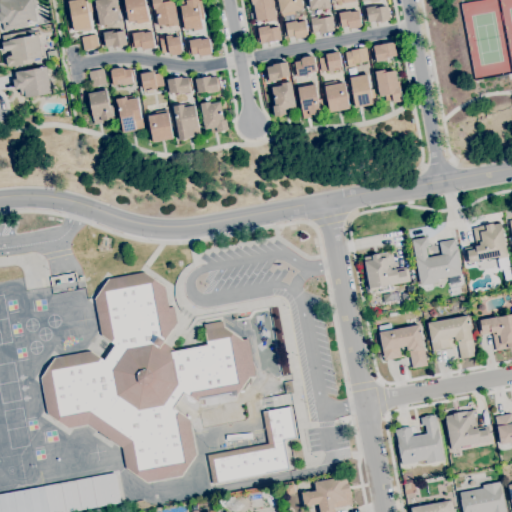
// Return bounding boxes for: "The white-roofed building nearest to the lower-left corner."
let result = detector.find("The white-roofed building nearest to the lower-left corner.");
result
[0,472,124,512]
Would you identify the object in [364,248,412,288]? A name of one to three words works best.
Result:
house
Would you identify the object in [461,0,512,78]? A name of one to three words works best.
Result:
tennis court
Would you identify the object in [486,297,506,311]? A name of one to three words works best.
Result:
swimming pool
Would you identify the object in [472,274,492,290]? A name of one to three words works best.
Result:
swimming pool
